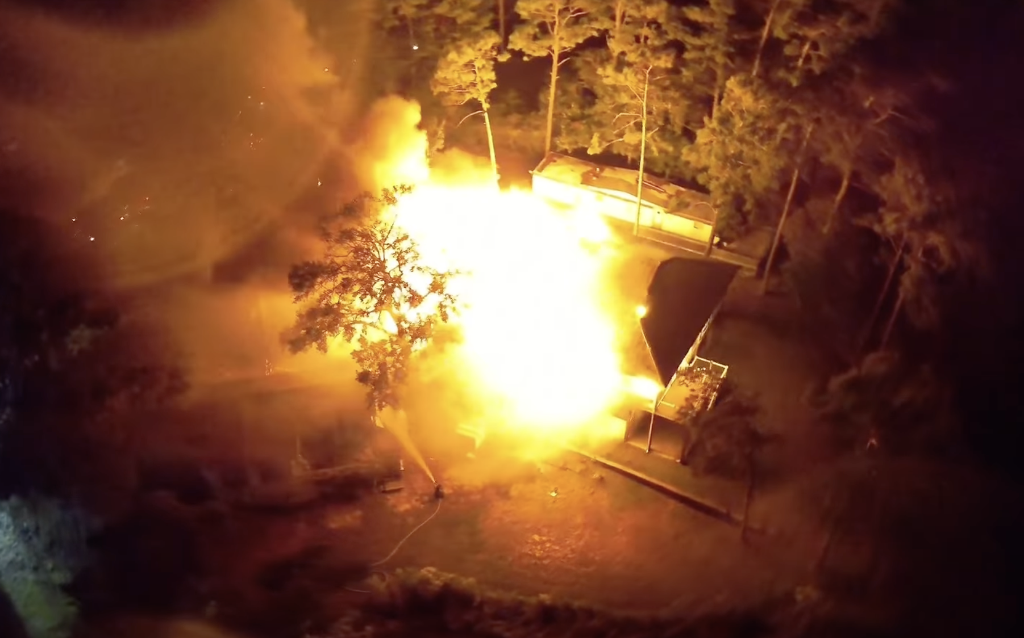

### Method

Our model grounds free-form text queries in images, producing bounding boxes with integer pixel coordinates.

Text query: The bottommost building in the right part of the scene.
[583,256,742,466]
